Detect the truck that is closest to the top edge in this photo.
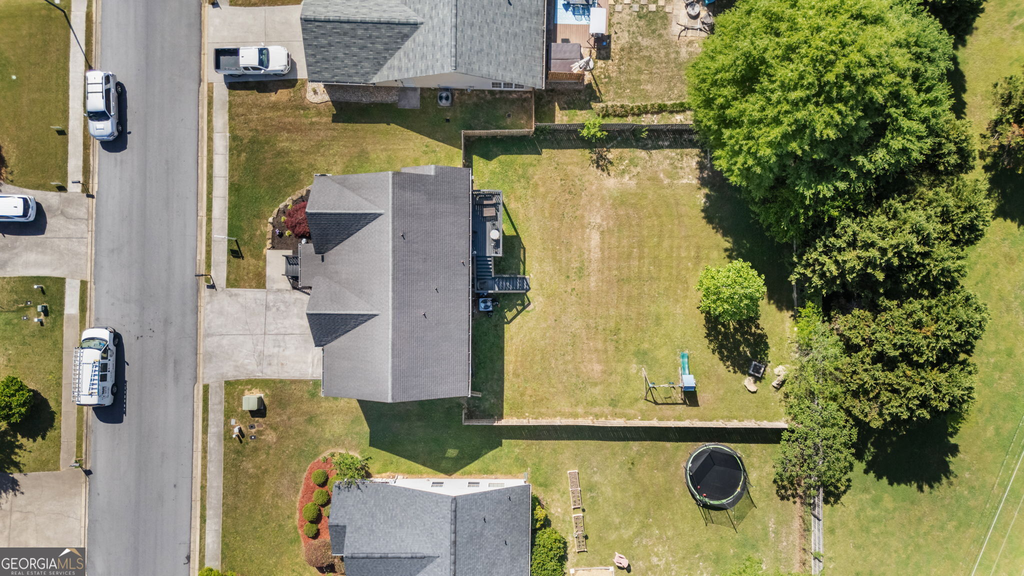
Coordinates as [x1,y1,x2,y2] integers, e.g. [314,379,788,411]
[214,41,293,77]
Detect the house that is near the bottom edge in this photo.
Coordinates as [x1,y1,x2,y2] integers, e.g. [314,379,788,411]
[328,469,533,576]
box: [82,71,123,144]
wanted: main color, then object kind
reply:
white car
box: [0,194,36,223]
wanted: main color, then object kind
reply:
white car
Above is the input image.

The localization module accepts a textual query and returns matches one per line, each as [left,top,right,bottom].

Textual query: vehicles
[74,324,120,406]
[0,194,36,223]
[82,71,123,144]
[214,41,293,77]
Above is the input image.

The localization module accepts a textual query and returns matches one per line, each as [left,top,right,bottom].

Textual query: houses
[282,164,474,404]
[328,469,533,576]
[300,0,549,96]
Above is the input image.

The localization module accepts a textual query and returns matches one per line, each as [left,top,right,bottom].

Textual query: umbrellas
[571,48,595,73]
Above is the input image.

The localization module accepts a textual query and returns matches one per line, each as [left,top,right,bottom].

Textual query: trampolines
[680,440,755,514]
